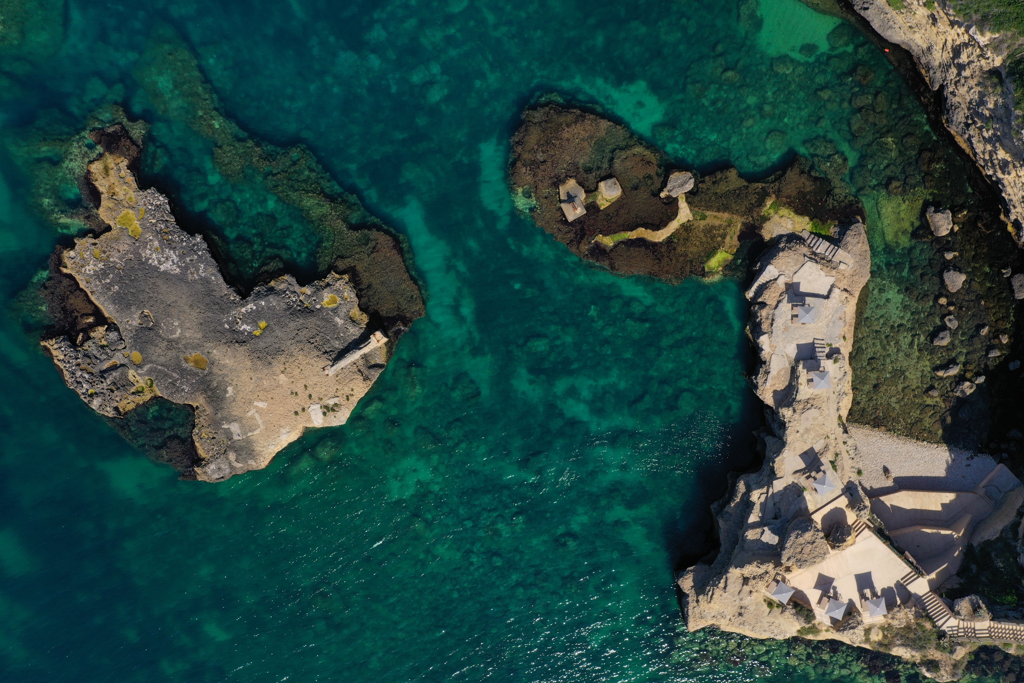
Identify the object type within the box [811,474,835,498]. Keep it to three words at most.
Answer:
umbrella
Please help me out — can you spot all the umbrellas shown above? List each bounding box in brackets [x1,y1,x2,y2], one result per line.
[811,474,835,498]
[812,371,831,390]
[797,306,815,324]
[824,598,847,621]
[866,597,887,618]
[770,581,794,605]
